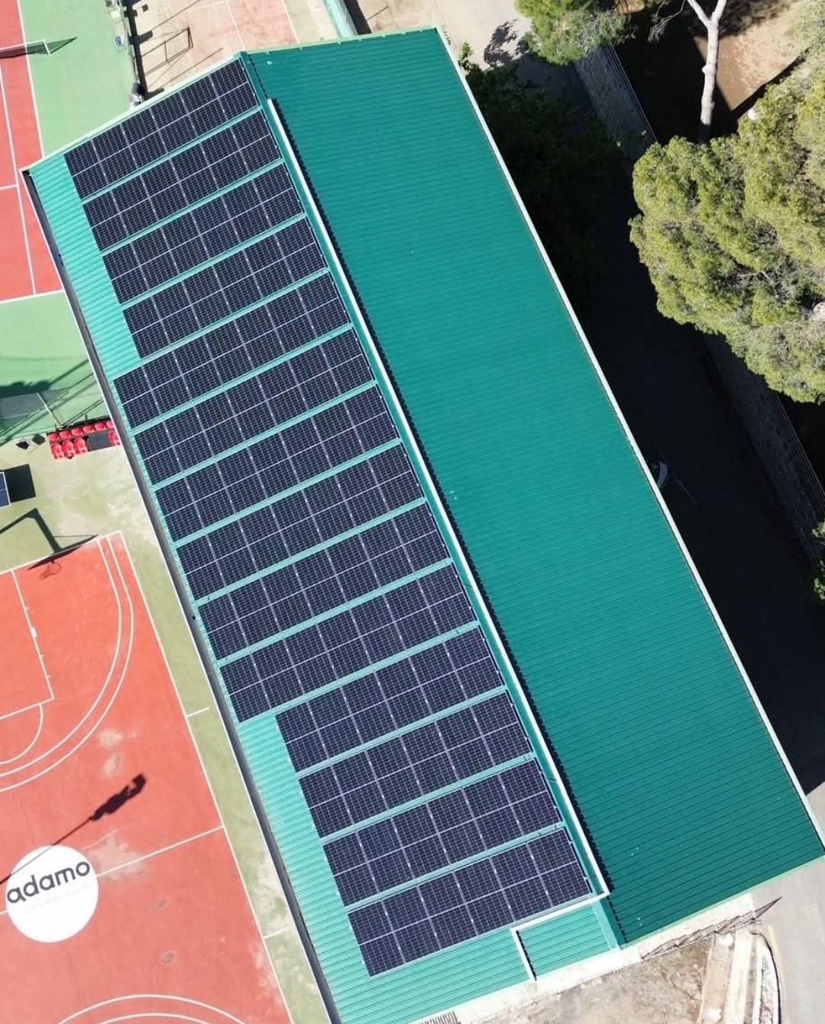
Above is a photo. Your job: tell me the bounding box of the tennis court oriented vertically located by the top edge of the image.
[0,0,63,302]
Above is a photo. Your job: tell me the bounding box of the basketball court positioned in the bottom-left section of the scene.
[0,530,290,1024]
